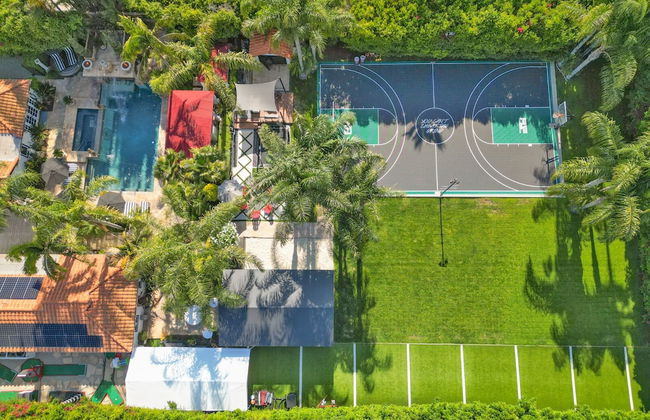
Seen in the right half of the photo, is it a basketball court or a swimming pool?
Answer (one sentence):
The one visible in the right half of the photo is a basketball court.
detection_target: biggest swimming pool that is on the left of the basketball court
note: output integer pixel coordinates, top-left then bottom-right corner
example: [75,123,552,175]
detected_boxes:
[81,81,164,194]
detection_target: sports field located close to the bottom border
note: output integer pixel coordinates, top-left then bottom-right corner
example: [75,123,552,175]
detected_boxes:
[249,346,650,407]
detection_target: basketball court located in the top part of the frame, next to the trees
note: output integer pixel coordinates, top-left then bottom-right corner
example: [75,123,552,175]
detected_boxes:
[317,62,567,198]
